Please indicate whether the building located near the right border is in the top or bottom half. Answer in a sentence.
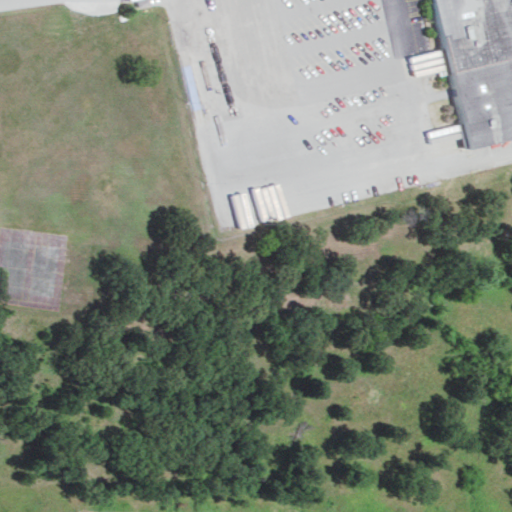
It is in the top half that the building located near the right border appears.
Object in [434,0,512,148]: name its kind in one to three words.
building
